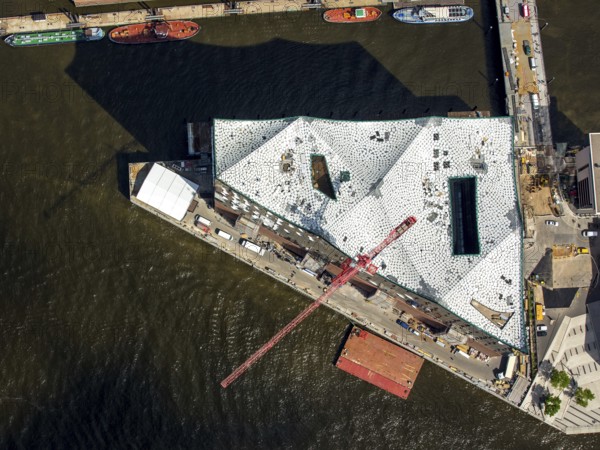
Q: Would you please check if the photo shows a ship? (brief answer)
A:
Yes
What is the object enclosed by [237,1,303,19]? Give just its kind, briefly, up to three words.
pier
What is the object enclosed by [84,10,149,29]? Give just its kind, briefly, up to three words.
pier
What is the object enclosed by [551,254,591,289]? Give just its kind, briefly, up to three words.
building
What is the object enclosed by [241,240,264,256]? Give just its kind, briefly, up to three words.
vehicle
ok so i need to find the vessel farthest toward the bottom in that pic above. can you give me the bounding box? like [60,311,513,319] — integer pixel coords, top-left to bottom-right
[336,358,410,399]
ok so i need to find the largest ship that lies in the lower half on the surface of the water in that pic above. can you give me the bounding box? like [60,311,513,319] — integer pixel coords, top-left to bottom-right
[339,326,424,388]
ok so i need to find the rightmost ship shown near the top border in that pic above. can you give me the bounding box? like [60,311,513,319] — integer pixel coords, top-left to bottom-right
[390,0,475,24]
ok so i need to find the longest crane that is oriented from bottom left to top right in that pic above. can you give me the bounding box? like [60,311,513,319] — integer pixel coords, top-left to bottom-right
[217,215,413,386]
